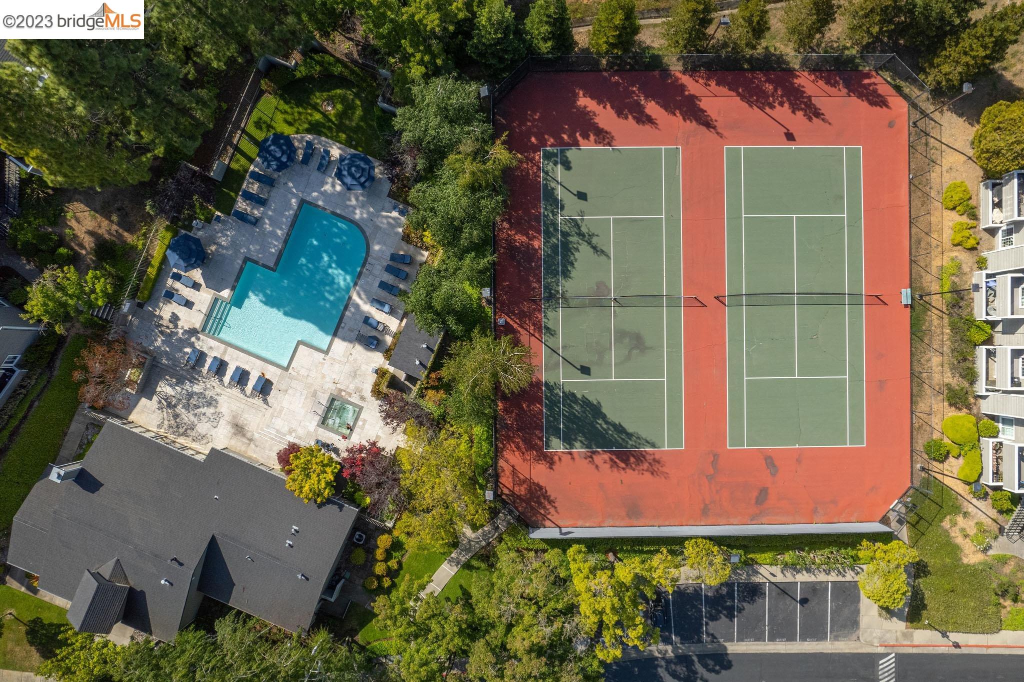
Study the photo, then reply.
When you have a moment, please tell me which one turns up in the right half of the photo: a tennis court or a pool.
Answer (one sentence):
There is a tennis court in the right half of the photo.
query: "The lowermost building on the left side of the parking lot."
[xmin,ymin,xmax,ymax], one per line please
[7,418,359,644]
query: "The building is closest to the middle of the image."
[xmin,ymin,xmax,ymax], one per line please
[388,318,443,380]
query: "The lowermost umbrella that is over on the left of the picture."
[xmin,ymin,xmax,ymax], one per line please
[167,234,206,272]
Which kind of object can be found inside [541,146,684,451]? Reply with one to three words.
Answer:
tennis court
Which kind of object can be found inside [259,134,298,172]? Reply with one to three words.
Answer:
umbrella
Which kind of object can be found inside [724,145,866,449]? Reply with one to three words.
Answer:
tennis court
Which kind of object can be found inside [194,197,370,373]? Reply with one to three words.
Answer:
swimming pool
